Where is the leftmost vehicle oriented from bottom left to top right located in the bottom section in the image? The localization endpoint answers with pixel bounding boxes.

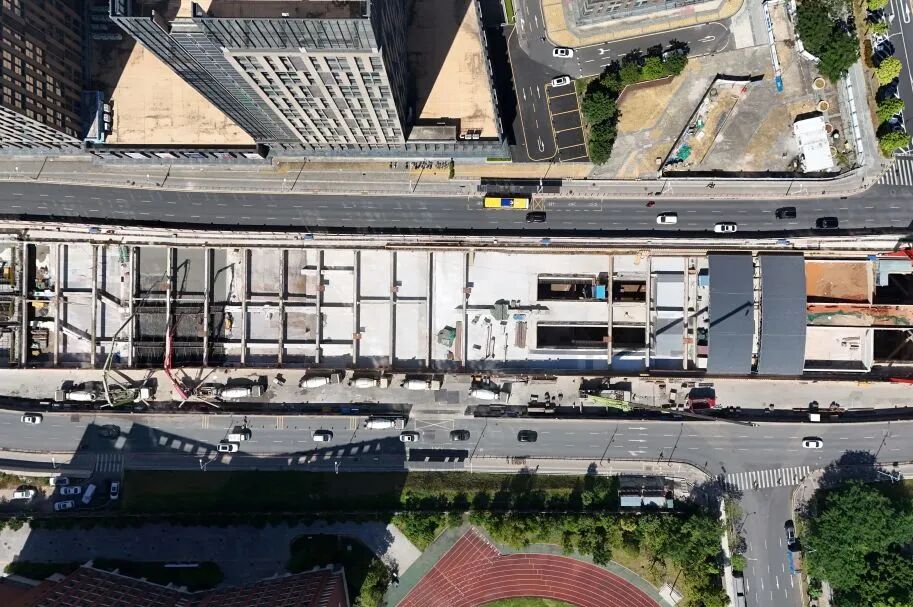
[79,483,98,505]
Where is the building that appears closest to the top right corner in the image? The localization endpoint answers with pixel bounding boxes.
[788,116,835,174]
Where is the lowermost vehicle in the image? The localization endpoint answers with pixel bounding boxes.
[734,577,746,603]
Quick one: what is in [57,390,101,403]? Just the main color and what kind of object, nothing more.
white vehicle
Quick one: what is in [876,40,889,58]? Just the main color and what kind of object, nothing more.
black vehicle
